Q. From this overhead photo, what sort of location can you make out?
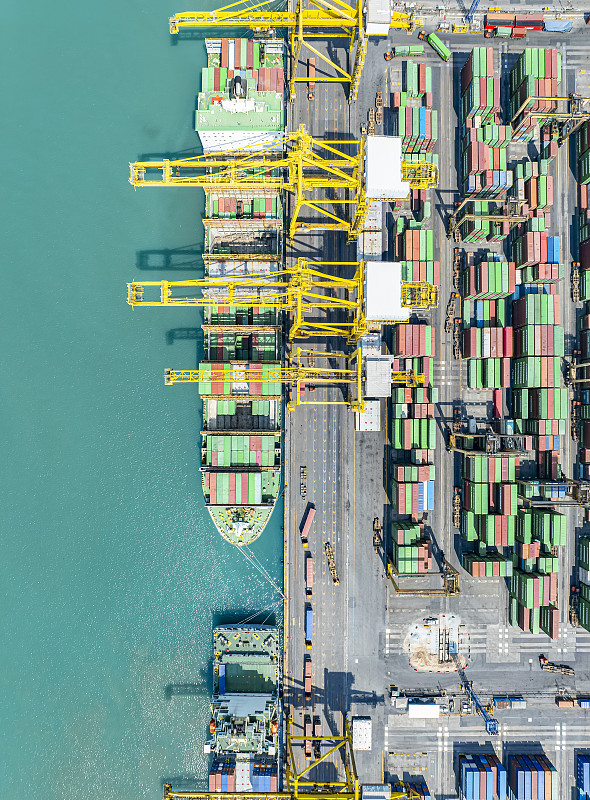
port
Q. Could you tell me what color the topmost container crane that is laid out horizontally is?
yellow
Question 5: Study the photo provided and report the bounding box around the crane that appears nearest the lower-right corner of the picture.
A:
[452,649,502,746]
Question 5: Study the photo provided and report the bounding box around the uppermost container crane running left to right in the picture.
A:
[167,0,424,110]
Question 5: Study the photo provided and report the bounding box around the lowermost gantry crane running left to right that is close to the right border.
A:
[511,475,590,506]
